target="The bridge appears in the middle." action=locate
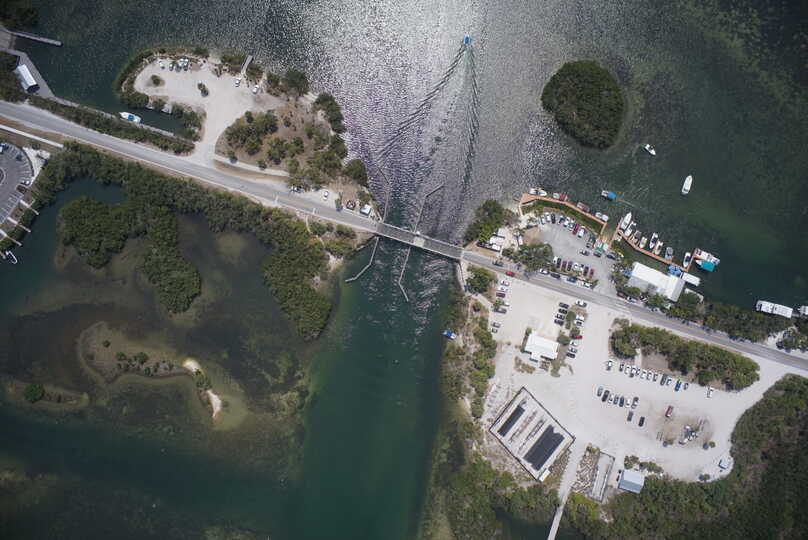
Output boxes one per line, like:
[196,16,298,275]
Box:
[375,221,464,261]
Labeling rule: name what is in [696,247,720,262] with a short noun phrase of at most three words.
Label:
boat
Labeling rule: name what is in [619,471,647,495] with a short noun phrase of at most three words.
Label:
shed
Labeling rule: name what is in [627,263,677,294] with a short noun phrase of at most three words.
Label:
building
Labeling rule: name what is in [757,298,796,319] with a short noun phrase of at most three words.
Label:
boat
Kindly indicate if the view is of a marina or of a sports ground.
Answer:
marina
